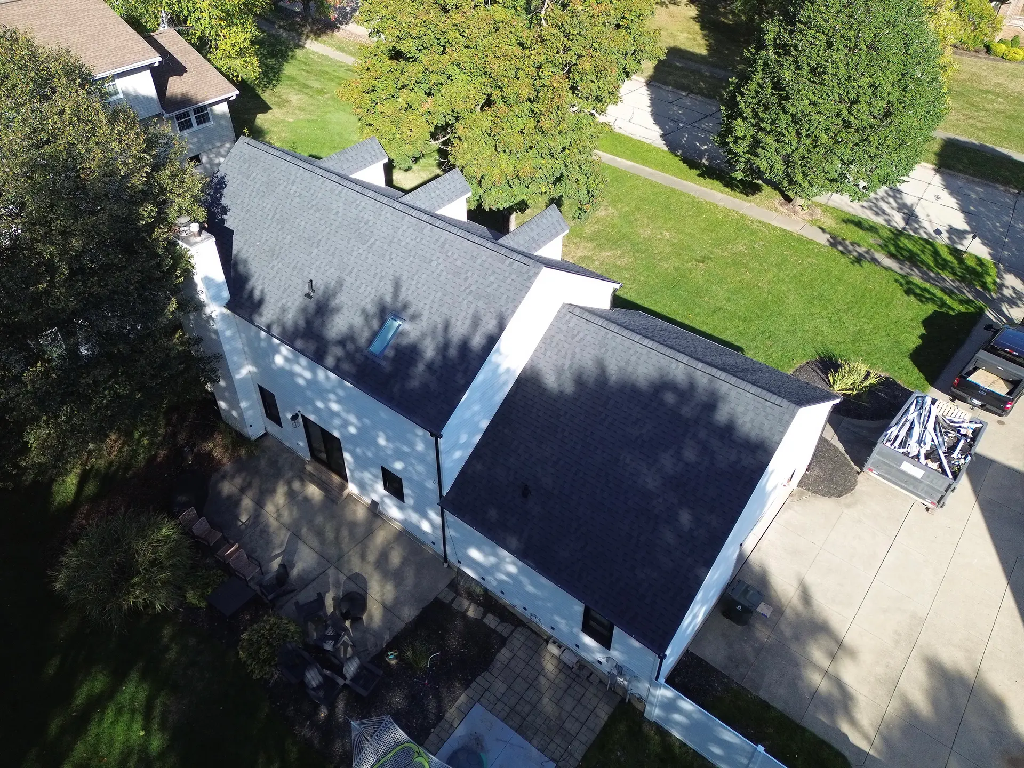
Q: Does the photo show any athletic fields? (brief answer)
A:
No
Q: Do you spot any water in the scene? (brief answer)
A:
No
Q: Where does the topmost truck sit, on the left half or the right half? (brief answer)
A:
right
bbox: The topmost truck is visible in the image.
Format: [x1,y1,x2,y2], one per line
[947,318,1024,419]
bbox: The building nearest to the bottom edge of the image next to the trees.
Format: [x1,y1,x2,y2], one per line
[166,136,842,715]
